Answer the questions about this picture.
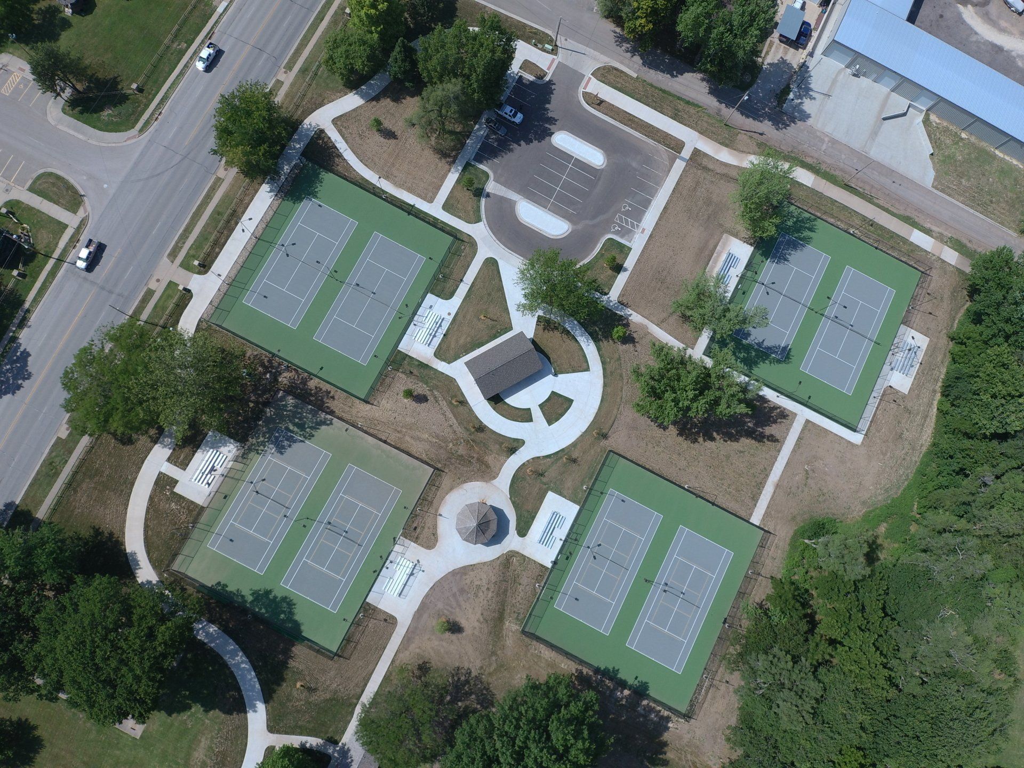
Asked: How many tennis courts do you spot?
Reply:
8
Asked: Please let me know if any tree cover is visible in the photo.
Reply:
Yes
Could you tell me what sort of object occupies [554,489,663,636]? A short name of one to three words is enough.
tennis court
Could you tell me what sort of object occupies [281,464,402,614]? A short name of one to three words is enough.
tennis court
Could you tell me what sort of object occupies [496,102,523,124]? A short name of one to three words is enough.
truck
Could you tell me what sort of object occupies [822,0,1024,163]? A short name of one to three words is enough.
building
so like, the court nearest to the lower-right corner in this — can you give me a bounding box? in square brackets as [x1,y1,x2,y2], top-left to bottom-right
[626,525,734,674]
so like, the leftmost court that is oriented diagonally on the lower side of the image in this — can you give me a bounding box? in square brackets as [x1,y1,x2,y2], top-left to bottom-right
[208,426,331,575]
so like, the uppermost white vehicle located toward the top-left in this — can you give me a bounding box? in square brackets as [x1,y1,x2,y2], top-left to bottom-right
[193,41,219,70]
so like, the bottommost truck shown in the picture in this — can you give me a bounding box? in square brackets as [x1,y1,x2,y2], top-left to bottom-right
[74,238,100,271]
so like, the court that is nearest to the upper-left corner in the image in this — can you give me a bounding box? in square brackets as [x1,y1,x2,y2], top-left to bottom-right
[243,196,358,329]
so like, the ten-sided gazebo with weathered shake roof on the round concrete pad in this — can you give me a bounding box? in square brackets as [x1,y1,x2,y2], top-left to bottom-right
[455,501,498,546]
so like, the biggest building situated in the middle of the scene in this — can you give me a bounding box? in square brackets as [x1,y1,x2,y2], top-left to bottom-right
[465,332,543,400]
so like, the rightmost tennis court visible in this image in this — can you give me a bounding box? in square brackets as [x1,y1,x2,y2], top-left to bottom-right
[801,266,896,395]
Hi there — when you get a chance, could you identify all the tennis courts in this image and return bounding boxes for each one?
[801,266,896,395]
[208,426,331,575]
[733,232,830,360]
[554,489,663,636]
[626,525,734,674]
[243,196,358,329]
[281,464,402,614]
[313,231,426,365]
